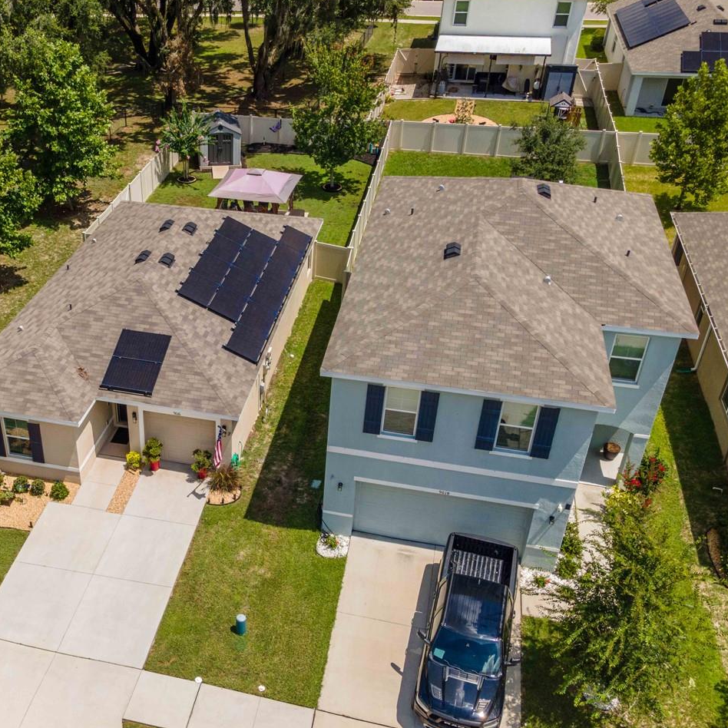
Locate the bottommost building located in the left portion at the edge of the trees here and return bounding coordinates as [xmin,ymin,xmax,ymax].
[0,203,325,482]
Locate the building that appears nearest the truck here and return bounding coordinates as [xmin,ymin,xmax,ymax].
[318,175,702,570]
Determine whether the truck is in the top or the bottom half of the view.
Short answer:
bottom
